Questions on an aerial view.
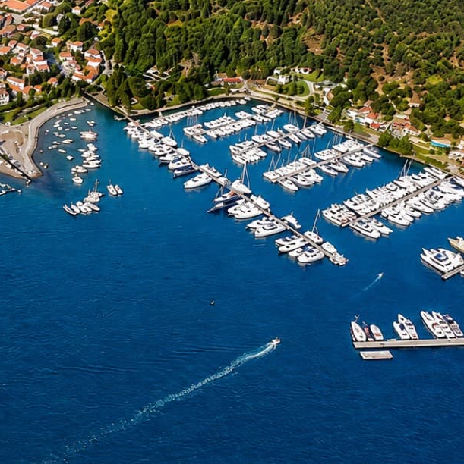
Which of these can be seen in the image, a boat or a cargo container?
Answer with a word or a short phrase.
boat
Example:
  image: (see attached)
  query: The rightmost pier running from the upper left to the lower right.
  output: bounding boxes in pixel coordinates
[115,108,347,262]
